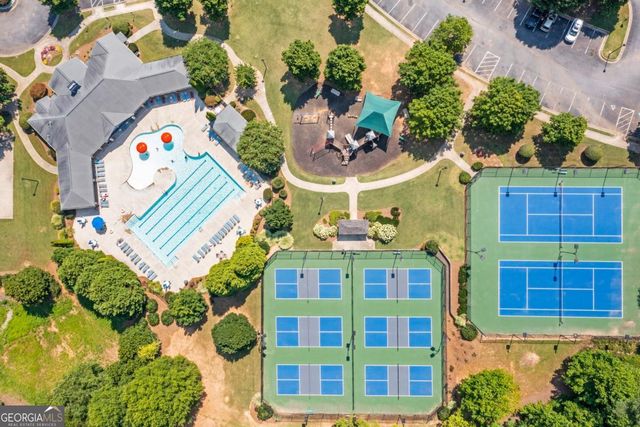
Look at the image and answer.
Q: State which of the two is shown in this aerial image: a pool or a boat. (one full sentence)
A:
The image shows a pool.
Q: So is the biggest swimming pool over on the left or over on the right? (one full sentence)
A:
The biggest swimming pool is on the left side of the image.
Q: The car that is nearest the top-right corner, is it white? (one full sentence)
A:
Yes, the car that is nearest the top-right corner is white.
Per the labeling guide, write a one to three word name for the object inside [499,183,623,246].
tennis court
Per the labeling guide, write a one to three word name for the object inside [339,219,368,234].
building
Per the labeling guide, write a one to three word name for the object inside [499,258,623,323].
tennis court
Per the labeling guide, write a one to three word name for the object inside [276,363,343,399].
sports court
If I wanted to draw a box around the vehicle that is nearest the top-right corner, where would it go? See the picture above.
[565,18,585,44]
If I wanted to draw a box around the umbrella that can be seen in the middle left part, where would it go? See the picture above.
[92,216,107,230]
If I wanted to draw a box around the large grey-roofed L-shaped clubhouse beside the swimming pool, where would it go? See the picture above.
[28,32,197,210]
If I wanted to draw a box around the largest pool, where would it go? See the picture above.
[124,123,246,268]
